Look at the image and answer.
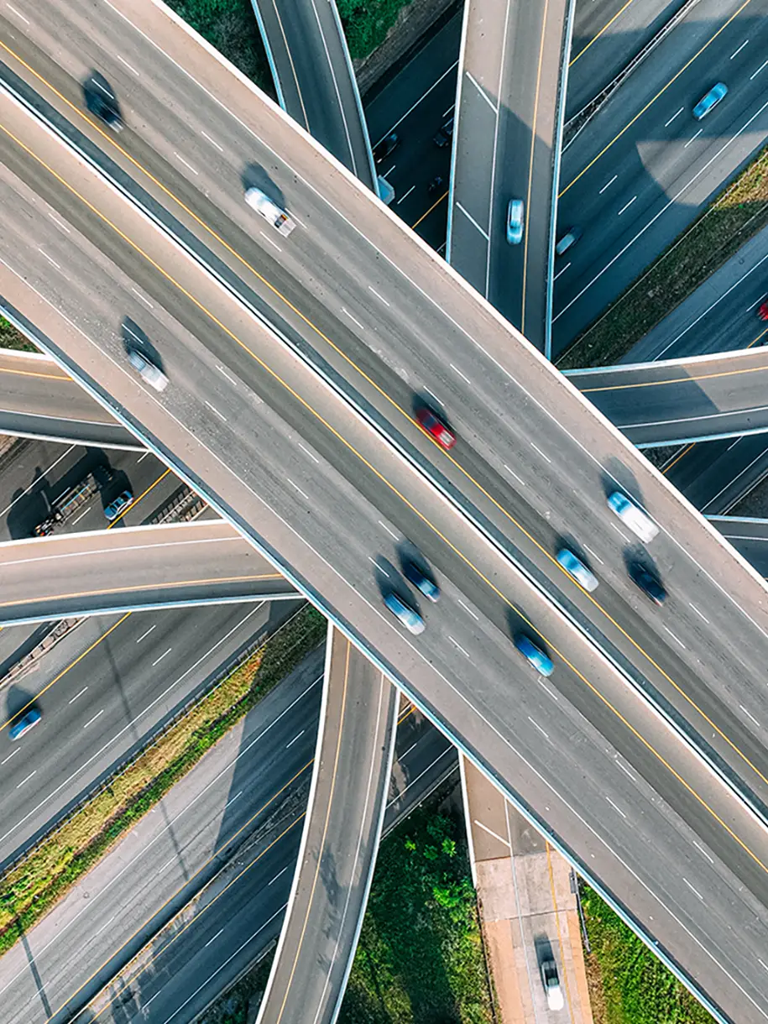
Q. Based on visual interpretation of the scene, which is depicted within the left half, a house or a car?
car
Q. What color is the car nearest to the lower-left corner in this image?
blue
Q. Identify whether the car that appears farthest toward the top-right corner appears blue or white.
blue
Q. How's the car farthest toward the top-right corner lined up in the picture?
at an angle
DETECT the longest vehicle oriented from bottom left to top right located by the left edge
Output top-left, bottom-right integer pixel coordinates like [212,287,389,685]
[11,456,118,541]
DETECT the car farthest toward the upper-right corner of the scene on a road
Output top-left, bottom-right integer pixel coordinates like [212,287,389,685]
[692,83,728,119]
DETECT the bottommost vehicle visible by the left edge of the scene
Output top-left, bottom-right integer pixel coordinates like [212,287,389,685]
[5,705,43,742]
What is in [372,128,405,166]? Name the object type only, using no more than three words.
car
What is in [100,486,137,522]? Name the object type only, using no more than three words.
car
